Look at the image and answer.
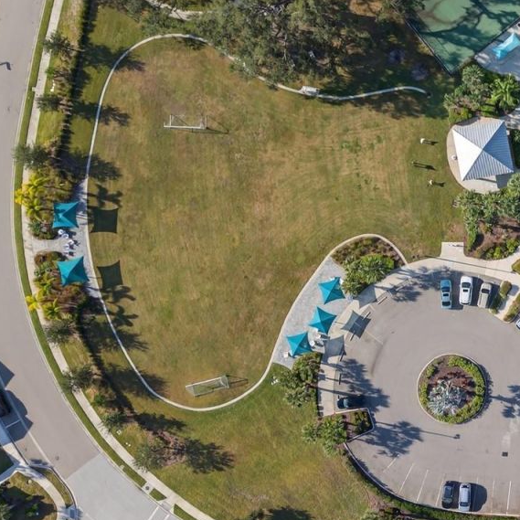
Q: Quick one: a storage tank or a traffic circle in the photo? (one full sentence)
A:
Of the two, only a traffic circle appears.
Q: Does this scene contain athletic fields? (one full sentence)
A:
Yes, an athletic field is visible in the scene.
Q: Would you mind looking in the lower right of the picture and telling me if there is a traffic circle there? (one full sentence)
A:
Yes, you'll find a traffic circle in the lower right of the picture.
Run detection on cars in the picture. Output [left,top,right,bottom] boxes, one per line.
[457,480,472,513]
[439,278,453,309]
[457,275,473,307]
[441,478,456,510]
[478,279,493,310]
[336,394,366,409]
[0,390,14,418]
